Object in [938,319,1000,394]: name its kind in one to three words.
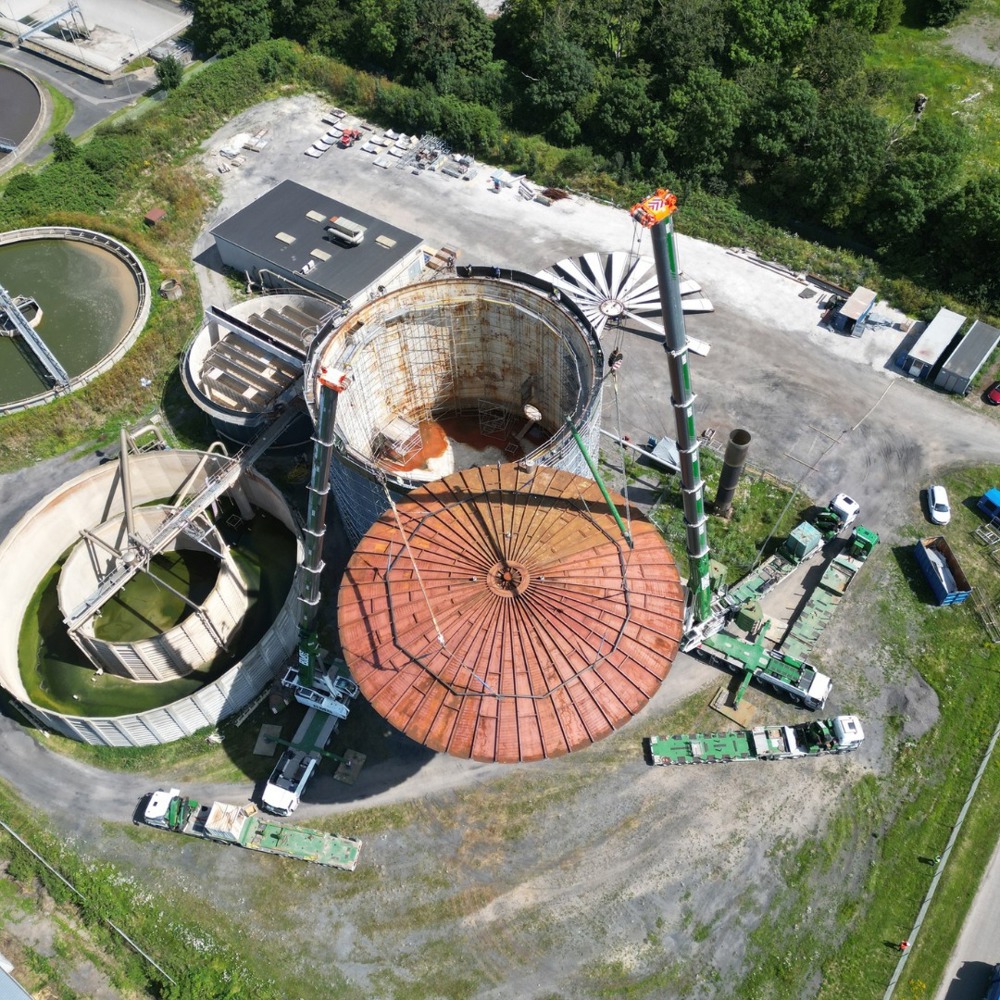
building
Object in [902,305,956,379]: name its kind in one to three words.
building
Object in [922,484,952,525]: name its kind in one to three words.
car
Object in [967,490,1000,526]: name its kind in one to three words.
van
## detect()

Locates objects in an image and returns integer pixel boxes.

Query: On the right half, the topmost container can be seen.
[831,289,875,342]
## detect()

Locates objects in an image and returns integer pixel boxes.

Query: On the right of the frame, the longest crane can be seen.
[612,188,822,715]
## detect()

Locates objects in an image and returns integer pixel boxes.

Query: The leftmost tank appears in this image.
[0,62,59,189]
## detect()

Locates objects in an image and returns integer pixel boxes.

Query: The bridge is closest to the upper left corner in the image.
[19,0,99,44]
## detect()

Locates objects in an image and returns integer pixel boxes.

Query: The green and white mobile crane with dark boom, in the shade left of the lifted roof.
[262,360,381,816]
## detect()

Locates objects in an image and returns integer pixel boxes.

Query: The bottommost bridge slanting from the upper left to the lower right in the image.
[0,298,76,396]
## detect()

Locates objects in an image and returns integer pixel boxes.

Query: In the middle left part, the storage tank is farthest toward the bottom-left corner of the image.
[0,425,311,748]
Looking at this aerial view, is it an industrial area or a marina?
industrial area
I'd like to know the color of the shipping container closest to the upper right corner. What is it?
white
